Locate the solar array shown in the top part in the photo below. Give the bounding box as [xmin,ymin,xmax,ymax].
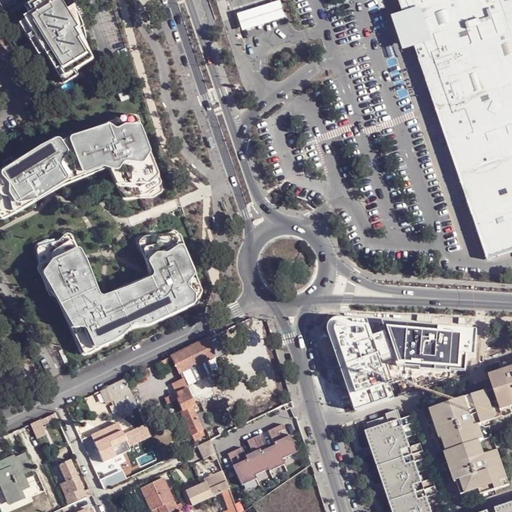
[6,142,54,176]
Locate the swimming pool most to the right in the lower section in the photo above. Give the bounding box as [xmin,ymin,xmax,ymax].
[136,451,157,467]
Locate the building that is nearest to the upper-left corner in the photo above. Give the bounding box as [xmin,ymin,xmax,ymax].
[18,0,94,78]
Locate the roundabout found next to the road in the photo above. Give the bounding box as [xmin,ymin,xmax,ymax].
[240,220,334,312]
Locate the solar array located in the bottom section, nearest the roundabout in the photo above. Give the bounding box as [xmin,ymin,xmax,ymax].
[96,296,171,336]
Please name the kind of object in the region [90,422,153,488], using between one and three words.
house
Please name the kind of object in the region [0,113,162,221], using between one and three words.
building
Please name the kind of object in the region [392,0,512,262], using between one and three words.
building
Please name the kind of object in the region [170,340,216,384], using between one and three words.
house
